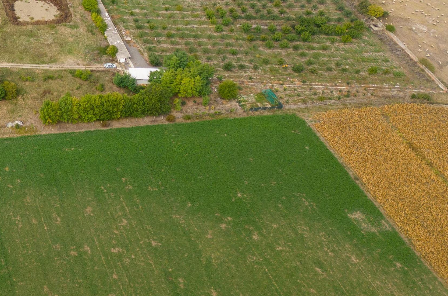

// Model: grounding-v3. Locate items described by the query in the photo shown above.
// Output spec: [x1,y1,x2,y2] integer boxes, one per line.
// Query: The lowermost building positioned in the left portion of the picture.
[132,66,165,85]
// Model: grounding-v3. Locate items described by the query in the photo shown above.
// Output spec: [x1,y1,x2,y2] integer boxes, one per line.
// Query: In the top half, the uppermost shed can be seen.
[98,0,131,64]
